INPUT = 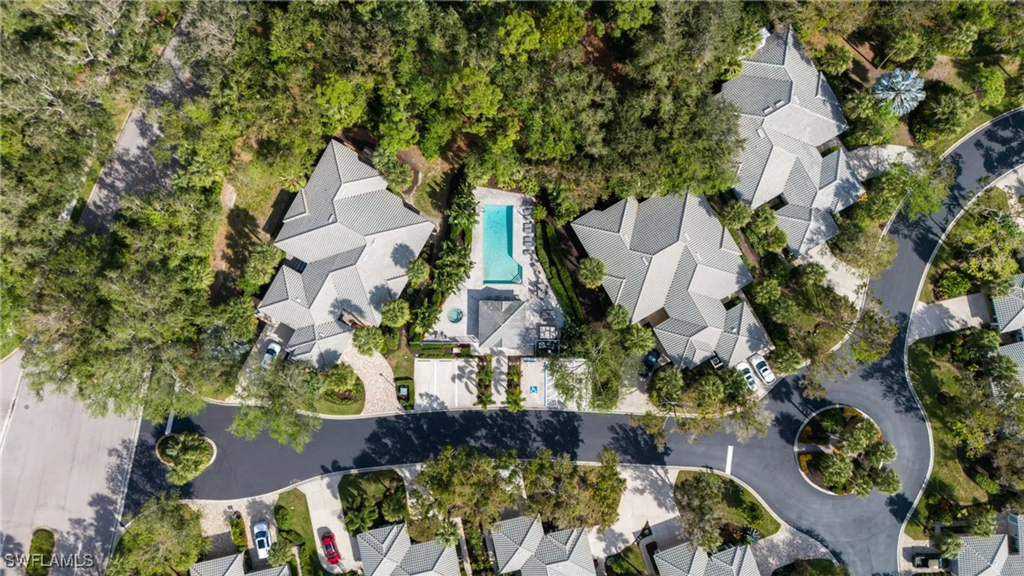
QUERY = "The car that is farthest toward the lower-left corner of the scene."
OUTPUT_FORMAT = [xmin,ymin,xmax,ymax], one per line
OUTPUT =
[249,522,270,561]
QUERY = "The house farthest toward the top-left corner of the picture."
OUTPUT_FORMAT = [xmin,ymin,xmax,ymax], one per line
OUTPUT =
[261,138,434,371]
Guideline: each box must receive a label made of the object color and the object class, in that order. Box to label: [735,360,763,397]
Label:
white car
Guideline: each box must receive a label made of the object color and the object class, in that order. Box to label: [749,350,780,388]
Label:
white car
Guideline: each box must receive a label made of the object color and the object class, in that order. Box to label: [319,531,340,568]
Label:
red car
